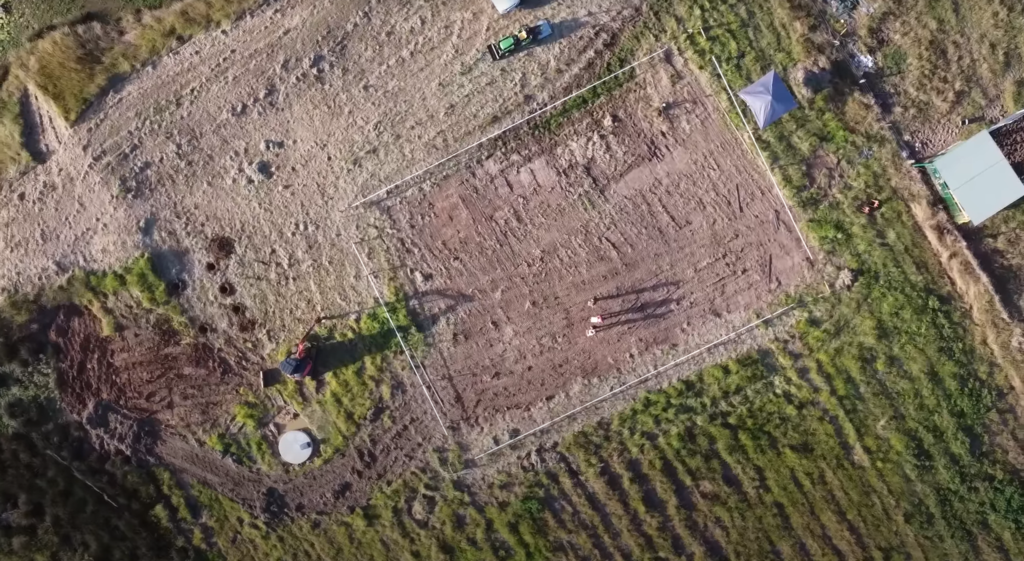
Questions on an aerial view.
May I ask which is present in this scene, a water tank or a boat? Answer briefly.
water tank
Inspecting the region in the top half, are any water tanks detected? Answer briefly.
No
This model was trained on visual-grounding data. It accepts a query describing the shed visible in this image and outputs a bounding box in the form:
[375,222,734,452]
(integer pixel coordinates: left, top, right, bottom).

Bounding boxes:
[913,128,1024,227]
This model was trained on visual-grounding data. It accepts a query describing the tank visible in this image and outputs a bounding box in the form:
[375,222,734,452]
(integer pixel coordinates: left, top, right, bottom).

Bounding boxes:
[278,427,315,464]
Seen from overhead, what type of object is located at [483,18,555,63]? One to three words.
work vehicle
